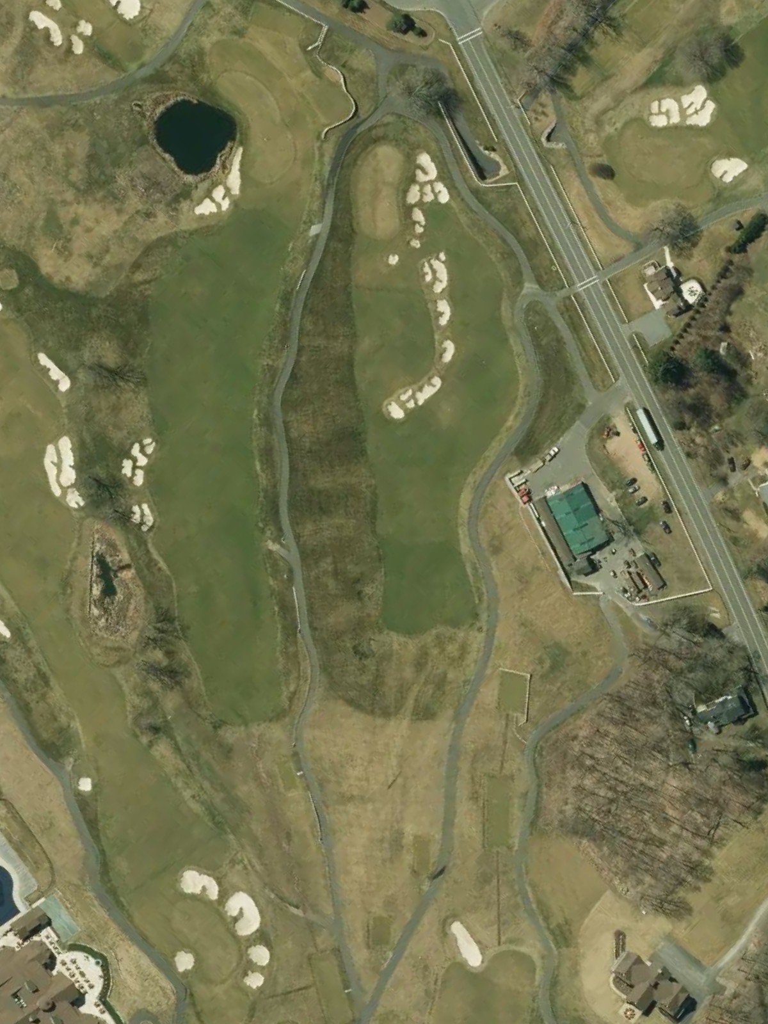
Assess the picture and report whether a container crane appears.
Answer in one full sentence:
No, I find no container crane anywhere in the image.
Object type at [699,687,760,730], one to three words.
house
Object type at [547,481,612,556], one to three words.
barn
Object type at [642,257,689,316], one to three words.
house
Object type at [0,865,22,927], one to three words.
swimming pool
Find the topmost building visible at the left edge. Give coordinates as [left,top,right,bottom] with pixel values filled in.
[8,905,49,942]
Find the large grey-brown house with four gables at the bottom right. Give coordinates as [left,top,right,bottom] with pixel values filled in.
[614,949,695,1018]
